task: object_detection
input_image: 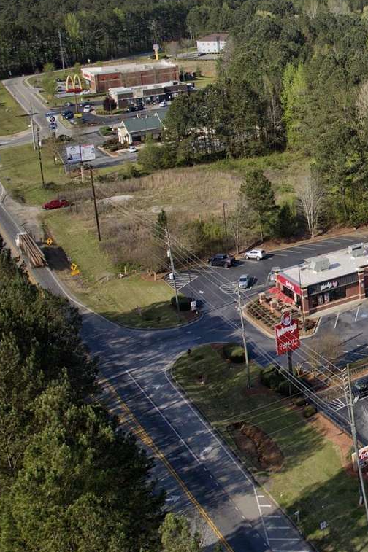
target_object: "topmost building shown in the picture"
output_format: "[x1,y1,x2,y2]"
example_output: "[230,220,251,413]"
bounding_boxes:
[195,35,225,53]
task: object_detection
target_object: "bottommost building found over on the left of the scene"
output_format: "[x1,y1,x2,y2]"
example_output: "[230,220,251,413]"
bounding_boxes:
[111,113,165,141]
